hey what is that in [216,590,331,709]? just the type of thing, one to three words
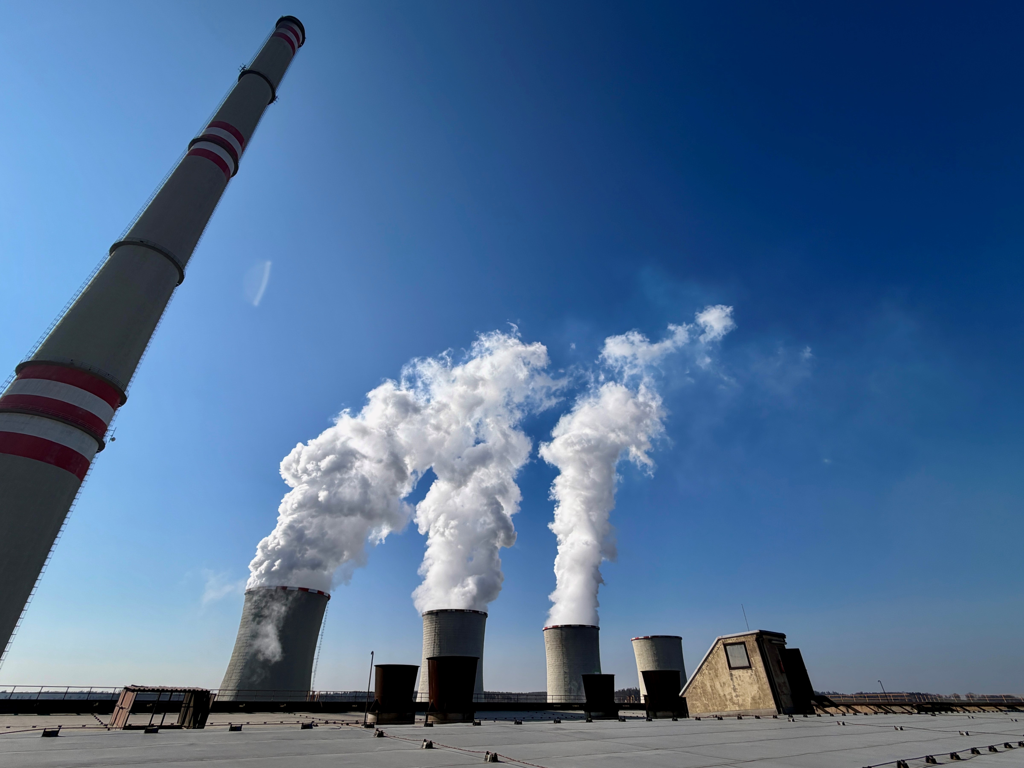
cooling tower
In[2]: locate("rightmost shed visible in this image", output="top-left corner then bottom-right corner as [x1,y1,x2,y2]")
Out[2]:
[677,610,824,719]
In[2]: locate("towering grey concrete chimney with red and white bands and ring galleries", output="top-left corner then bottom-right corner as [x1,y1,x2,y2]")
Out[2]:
[0,15,305,672]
